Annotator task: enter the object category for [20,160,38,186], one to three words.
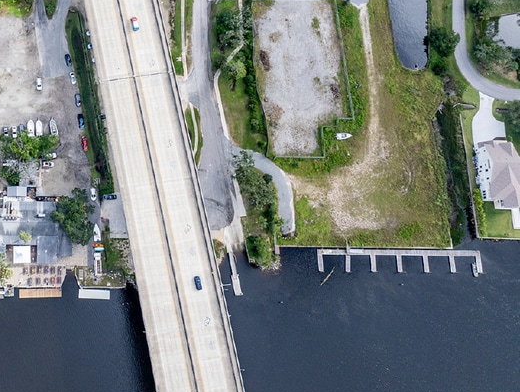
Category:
shed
